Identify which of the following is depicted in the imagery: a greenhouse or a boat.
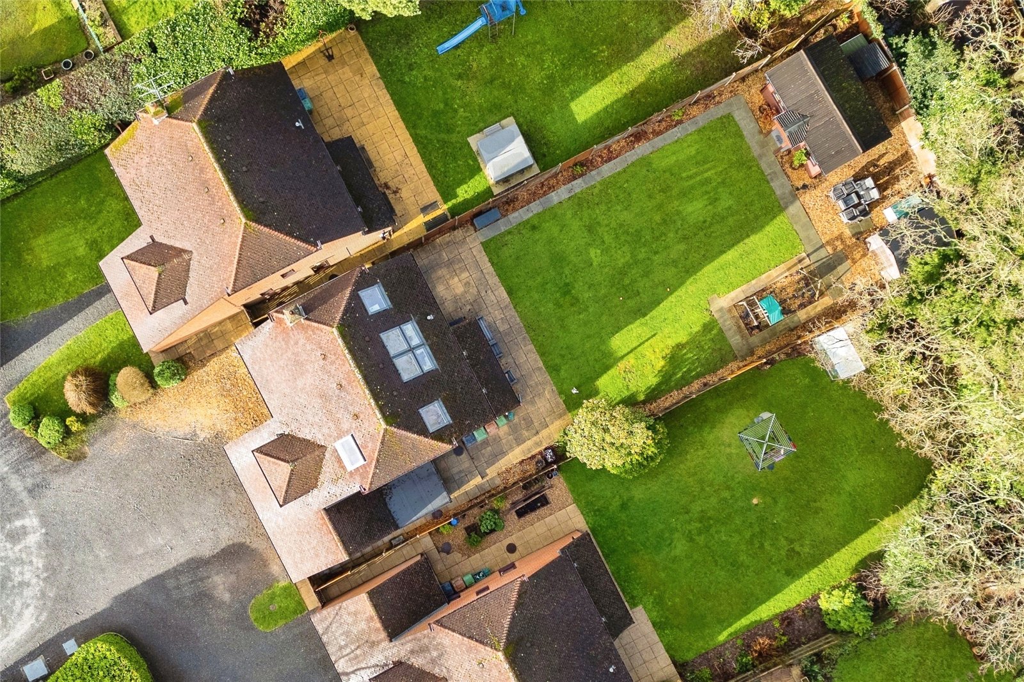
greenhouse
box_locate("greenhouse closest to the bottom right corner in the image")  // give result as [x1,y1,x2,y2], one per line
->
[804,326,865,380]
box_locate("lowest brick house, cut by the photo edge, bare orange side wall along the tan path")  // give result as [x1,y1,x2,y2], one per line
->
[309,526,635,682]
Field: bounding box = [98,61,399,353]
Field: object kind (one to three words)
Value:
house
